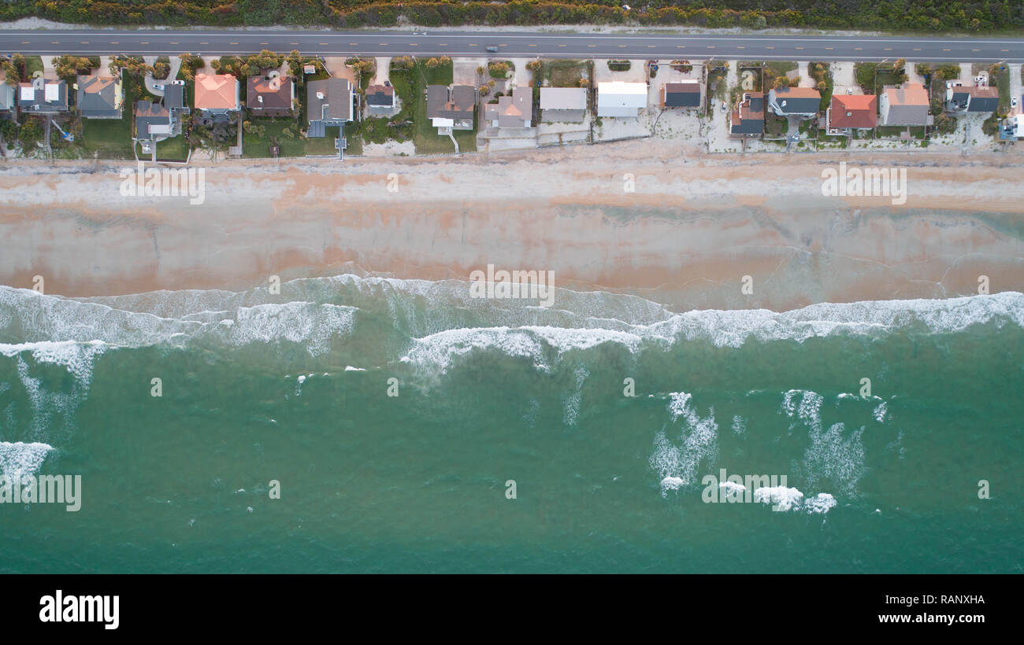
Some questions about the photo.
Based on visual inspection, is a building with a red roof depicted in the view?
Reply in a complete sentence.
Yes, there's a building with a red roof here.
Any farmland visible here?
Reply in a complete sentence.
No, there's no farmland in this view.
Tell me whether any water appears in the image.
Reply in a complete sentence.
Yes, there's water in this view.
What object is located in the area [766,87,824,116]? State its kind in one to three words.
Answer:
house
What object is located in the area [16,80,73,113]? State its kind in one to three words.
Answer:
house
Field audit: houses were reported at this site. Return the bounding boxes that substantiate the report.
[485,86,533,128]
[366,84,393,106]
[77,73,123,118]
[135,84,185,139]
[16,80,73,113]
[730,91,766,135]
[881,82,933,128]
[598,82,648,117]
[946,85,1002,114]
[306,76,352,138]
[540,87,586,110]
[766,87,824,116]
[195,73,239,114]
[828,95,876,129]
[247,74,293,113]
[665,83,702,109]
[1009,94,1024,145]
[426,83,475,128]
